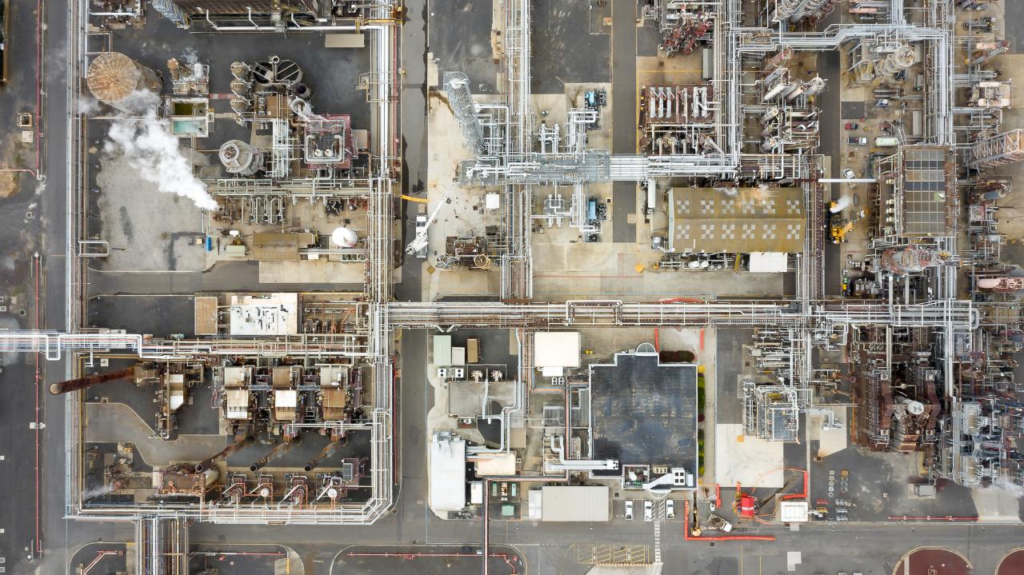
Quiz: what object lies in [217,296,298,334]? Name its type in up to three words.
building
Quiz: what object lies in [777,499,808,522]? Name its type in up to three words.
building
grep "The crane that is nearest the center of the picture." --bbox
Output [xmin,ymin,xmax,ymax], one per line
[404,197,452,258]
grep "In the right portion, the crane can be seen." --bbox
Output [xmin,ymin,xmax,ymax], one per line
[831,212,864,241]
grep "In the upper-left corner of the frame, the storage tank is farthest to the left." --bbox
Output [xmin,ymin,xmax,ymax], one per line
[87,53,164,115]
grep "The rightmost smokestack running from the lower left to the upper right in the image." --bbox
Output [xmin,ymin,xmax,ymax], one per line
[304,430,346,472]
